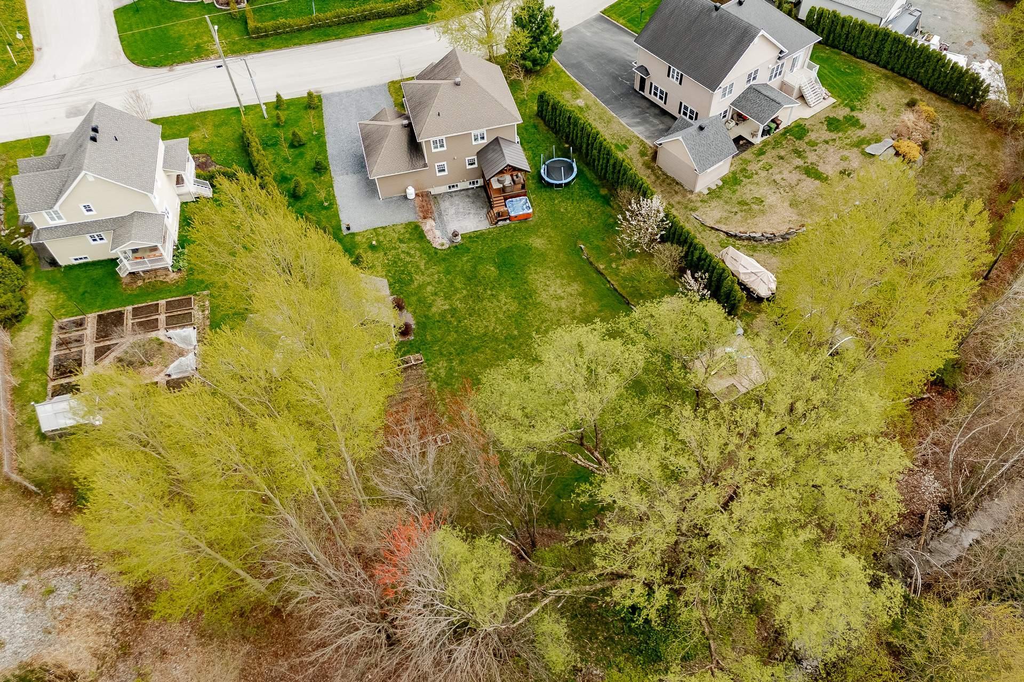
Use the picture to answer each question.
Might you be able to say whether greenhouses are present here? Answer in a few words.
Yes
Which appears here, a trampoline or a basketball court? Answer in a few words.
trampoline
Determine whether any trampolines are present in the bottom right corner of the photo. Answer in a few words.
No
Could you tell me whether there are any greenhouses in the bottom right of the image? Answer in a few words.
No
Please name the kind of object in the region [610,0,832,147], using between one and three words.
house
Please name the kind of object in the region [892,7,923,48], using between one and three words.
shed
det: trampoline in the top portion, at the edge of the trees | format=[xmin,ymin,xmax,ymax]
[541,144,577,190]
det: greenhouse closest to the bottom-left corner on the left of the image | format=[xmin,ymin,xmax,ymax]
[35,383,107,435]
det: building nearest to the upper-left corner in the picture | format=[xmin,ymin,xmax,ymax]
[11,102,211,275]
